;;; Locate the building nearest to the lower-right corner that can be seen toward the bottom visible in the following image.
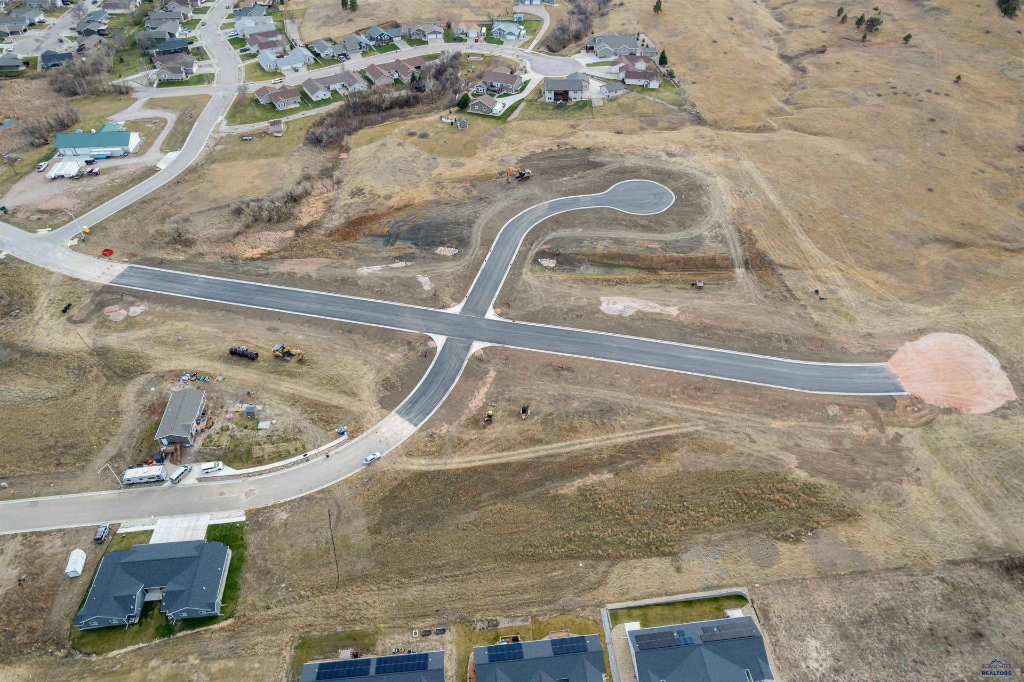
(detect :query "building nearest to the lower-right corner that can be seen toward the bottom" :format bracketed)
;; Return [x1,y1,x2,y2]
[627,615,780,682]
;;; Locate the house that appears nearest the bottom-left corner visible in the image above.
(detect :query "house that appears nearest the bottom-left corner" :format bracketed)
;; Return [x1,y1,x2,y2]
[75,538,235,630]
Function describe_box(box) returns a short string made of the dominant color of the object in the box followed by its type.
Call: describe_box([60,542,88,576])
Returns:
white trailer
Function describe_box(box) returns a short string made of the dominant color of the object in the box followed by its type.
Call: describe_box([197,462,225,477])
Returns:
white vehicle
